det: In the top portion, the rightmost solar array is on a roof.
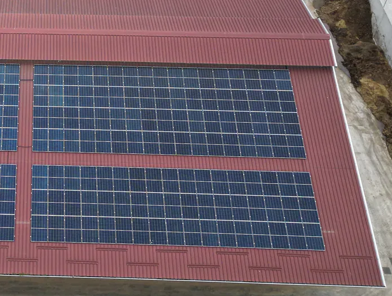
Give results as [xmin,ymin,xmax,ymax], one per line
[32,65,305,157]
